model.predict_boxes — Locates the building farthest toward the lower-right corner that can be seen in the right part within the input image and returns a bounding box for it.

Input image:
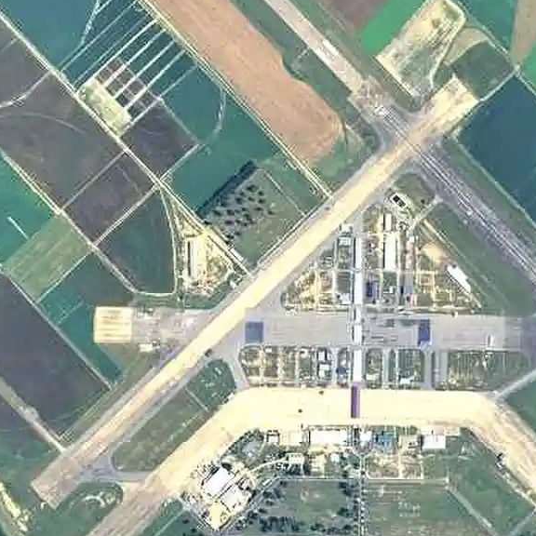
[423,435,445,449]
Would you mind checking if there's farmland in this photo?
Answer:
Yes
